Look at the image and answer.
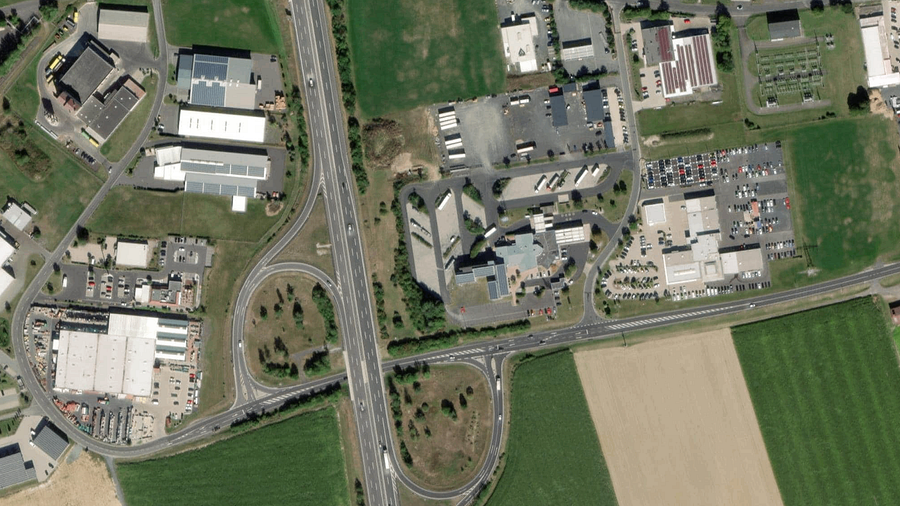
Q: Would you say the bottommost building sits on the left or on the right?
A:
left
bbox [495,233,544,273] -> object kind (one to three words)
building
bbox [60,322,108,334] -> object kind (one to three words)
house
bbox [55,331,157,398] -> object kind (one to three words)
building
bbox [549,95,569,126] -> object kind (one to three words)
shed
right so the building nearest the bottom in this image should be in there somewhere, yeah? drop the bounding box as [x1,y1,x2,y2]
[0,452,39,490]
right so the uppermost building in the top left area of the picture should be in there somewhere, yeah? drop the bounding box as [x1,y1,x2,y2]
[98,10,150,43]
